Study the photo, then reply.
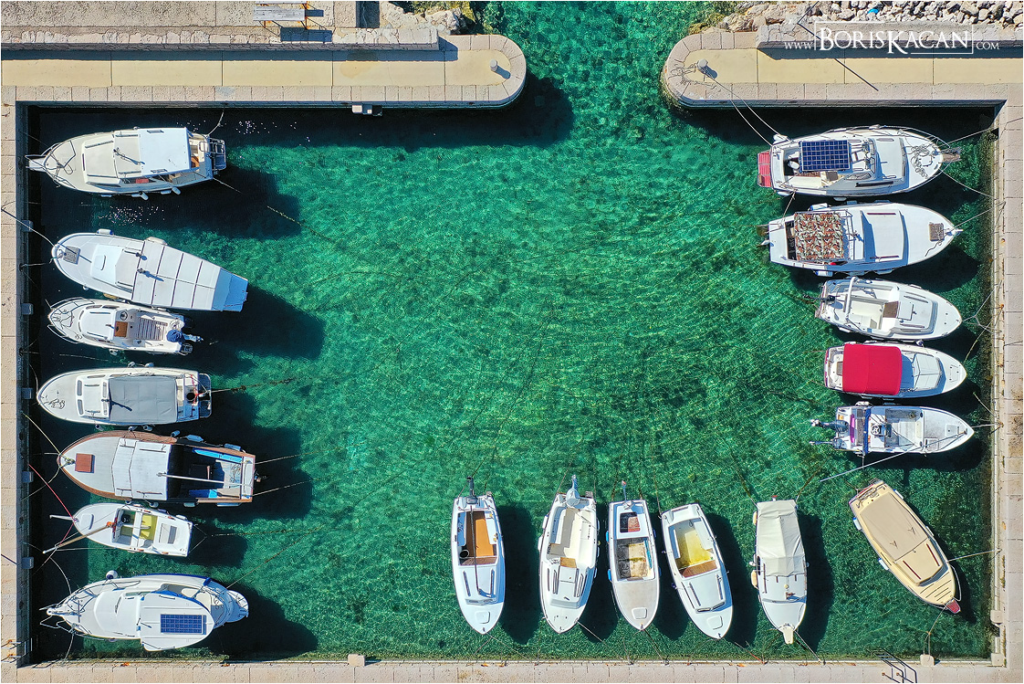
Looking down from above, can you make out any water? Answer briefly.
Yes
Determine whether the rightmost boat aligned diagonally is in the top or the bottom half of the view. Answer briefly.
bottom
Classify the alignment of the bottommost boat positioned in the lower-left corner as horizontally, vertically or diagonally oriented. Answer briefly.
horizontally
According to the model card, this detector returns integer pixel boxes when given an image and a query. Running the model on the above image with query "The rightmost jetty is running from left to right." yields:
[657,24,1024,112]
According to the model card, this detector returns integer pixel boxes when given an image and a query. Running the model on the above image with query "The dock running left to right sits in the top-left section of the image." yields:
[0,26,529,112]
